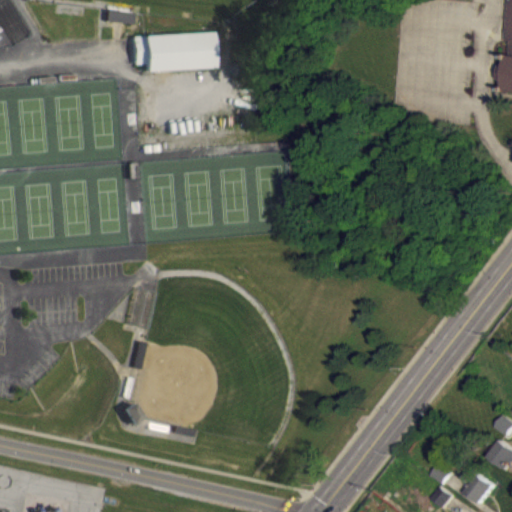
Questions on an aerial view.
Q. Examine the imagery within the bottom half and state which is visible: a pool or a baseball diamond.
baseball diamond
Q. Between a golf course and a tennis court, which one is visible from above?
tennis court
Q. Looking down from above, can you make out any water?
No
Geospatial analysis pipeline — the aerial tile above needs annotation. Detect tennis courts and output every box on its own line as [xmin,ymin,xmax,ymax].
[0,186,18,241]
[184,171,213,227]
[54,96,84,152]
[62,180,90,236]
[26,183,54,239]
[91,93,114,148]
[0,100,11,156]
[19,98,48,154]
[98,178,120,234]
[148,174,177,230]
[220,168,249,224]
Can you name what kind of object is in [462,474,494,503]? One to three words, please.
house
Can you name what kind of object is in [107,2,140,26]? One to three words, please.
building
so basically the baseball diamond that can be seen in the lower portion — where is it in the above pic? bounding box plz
[132,341,218,427]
